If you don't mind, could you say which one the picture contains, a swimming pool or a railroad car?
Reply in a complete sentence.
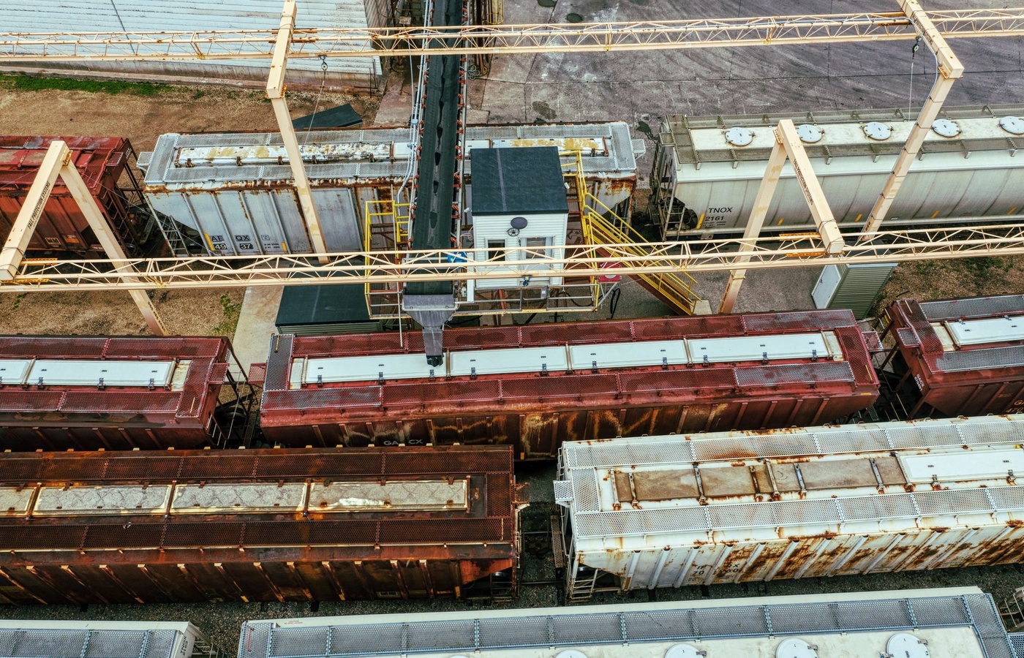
There is a railroad car in the scene.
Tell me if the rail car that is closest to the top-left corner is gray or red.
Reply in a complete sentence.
In this view, the rail car that is closest to the top-left corner is red.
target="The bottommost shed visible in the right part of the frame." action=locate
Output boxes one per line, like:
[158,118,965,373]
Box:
[813,231,900,318]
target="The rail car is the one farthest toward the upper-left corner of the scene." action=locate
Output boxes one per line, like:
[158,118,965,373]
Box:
[0,139,171,269]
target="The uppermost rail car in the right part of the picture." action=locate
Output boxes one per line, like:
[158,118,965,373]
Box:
[638,99,1024,238]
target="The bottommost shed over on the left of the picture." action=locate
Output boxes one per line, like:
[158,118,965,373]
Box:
[276,256,387,334]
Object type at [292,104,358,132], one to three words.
shed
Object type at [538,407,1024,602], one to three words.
rail car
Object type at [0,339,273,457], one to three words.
rail car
